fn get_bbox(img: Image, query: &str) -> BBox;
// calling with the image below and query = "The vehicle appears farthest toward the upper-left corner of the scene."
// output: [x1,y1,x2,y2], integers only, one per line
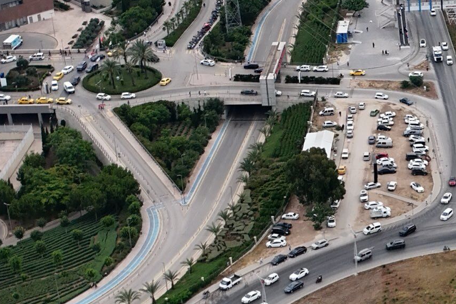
[1,34,21,47]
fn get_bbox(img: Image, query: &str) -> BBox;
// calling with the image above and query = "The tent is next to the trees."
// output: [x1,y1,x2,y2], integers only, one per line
[303,136,335,162]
